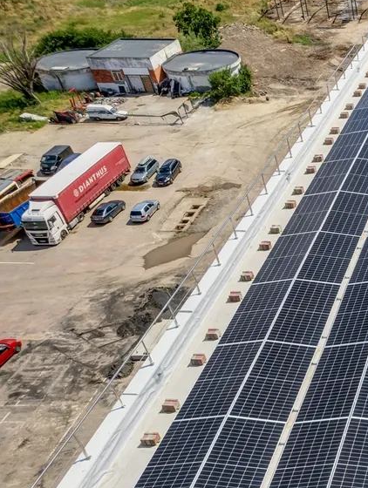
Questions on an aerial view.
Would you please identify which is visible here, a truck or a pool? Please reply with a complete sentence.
Of the two, only a truck appears.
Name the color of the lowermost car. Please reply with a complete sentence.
The color of the lowermost car is red.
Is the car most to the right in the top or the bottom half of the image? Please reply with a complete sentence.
Seen from above, the car most to the right lies in the top half of the view.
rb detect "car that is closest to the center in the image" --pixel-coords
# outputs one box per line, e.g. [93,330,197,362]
[128,196,165,219]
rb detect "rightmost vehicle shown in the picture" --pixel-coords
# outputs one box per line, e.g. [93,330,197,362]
[152,156,185,183]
